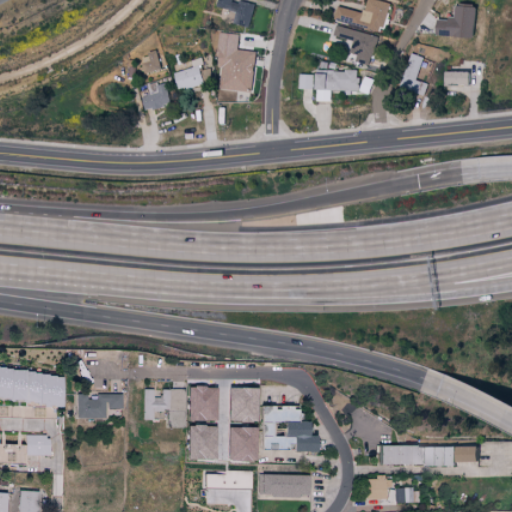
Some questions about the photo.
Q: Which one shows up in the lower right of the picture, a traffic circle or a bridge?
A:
bridge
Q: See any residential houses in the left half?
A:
Yes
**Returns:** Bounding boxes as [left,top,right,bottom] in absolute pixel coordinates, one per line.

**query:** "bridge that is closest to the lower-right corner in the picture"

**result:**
[422,370,512,435]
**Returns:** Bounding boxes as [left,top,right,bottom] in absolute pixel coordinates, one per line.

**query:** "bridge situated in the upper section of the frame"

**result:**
[460,155,512,185]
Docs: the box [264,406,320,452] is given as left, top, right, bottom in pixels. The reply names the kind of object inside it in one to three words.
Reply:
building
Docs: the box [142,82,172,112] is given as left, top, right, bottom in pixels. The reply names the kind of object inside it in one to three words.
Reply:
house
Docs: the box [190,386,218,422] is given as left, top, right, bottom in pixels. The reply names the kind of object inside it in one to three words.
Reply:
building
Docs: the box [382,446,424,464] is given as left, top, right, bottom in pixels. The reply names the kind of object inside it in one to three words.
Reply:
shed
